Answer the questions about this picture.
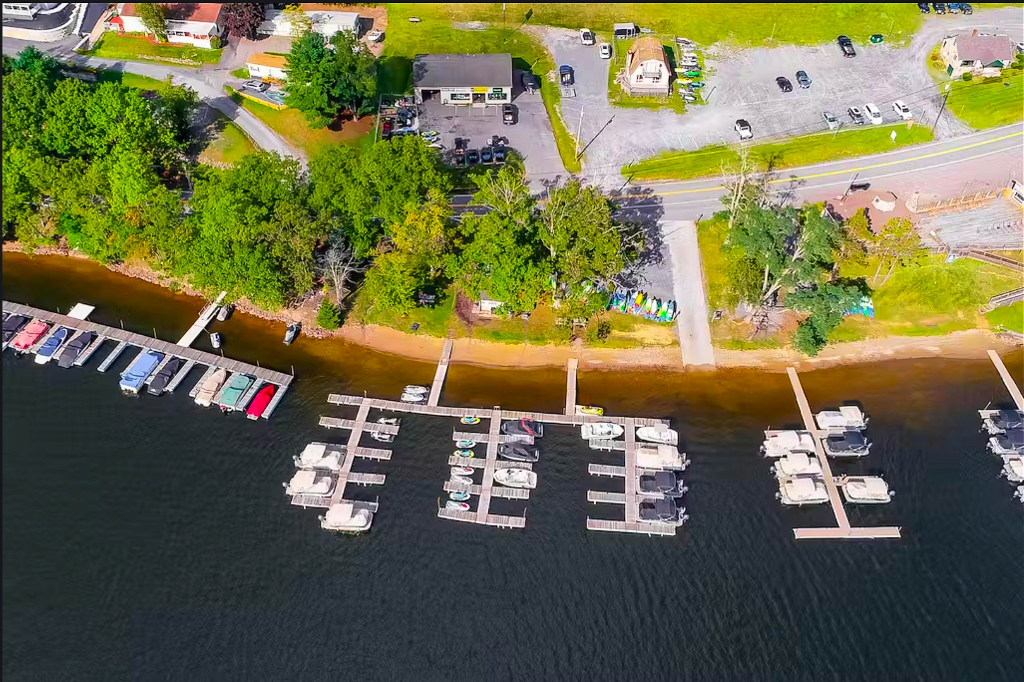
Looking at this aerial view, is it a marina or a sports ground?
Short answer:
marina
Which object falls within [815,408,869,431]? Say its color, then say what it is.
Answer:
white boat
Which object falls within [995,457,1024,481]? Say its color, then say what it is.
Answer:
white boat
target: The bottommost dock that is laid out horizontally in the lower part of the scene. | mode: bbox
[290,391,676,537]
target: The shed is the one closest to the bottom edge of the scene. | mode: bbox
[477,288,504,319]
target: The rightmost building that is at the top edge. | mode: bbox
[932,28,1021,81]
